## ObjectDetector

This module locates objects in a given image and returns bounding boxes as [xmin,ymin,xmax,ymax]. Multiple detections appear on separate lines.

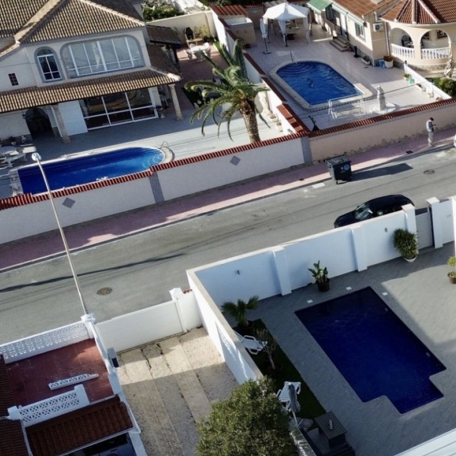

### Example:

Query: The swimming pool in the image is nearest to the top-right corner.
[269,58,369,109]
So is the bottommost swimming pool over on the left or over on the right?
right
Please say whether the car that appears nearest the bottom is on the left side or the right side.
right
